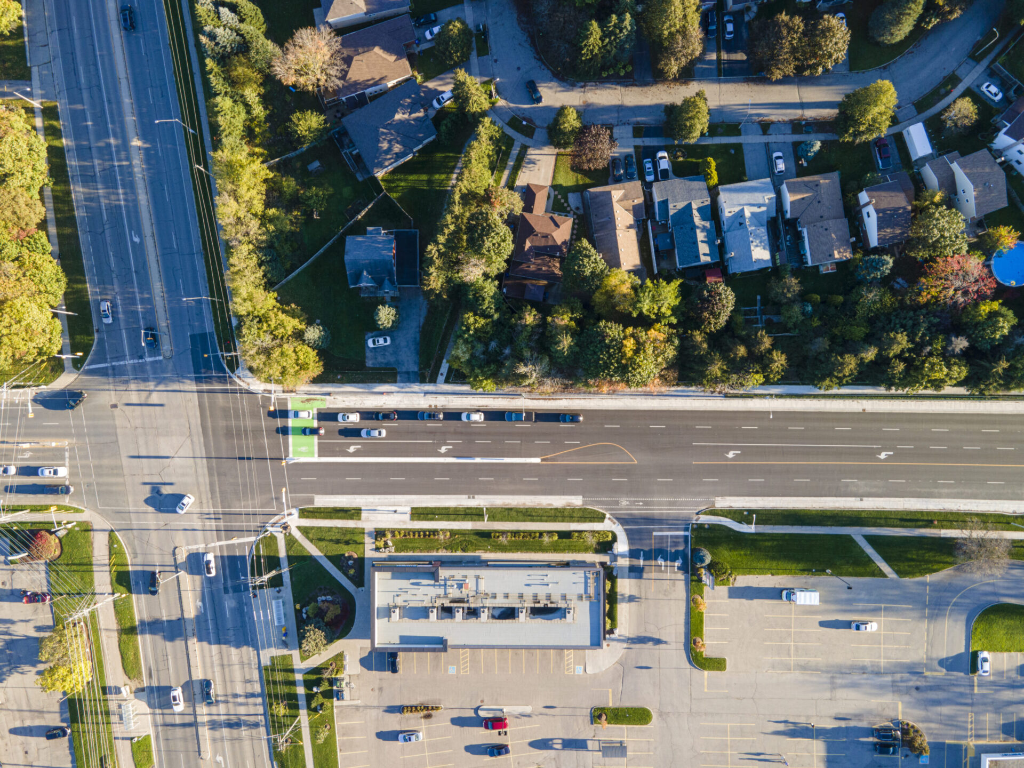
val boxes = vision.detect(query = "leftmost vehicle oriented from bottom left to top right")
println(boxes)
[66,389,90,411]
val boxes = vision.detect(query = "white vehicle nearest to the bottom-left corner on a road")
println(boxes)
[171,686,184,711]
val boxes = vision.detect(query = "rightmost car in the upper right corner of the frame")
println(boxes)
[979,80,1003,102]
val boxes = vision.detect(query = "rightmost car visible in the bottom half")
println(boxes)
[977,650,991,675]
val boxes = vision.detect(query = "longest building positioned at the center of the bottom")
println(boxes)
[371,555,606,652]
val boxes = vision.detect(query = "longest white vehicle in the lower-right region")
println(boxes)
[781,589,820,605]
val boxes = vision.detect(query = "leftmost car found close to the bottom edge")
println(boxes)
[45,726,71,739]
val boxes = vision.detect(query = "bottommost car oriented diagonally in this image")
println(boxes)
[175,491,195,515]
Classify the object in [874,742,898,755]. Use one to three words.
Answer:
vehicle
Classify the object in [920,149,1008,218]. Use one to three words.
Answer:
house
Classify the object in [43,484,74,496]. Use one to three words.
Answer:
vehicle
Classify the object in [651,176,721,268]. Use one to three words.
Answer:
house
